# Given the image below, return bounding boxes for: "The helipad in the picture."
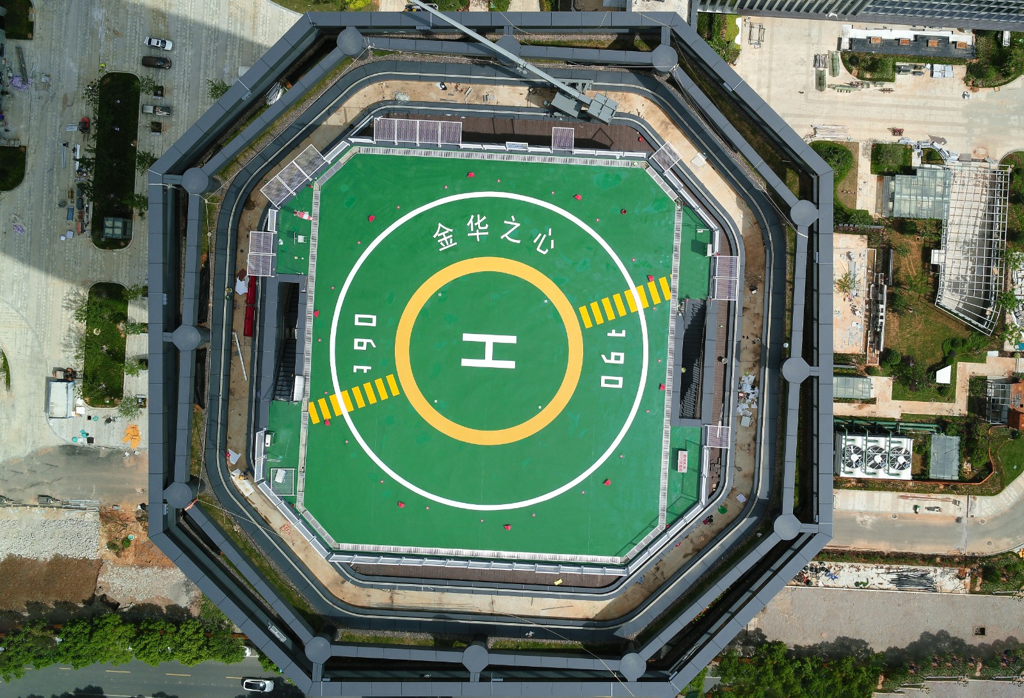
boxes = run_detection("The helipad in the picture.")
[246,117,738,579]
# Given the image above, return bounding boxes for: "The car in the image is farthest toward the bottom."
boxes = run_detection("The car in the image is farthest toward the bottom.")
[245,677,276,692]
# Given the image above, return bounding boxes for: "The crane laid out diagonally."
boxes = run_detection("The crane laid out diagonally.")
[407,0,618,126]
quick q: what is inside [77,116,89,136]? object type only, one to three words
vehicle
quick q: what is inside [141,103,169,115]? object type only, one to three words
vehicle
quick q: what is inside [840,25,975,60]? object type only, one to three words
building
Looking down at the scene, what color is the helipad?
green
